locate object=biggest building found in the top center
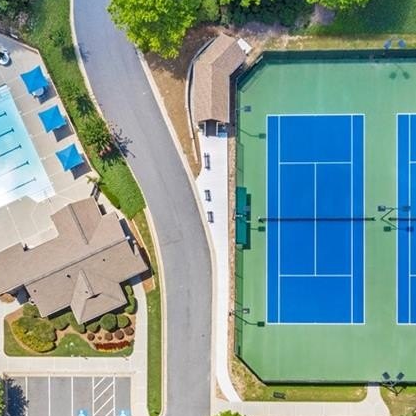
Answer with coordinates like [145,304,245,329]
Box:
[193,33,247,126]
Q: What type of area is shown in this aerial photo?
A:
sports ground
